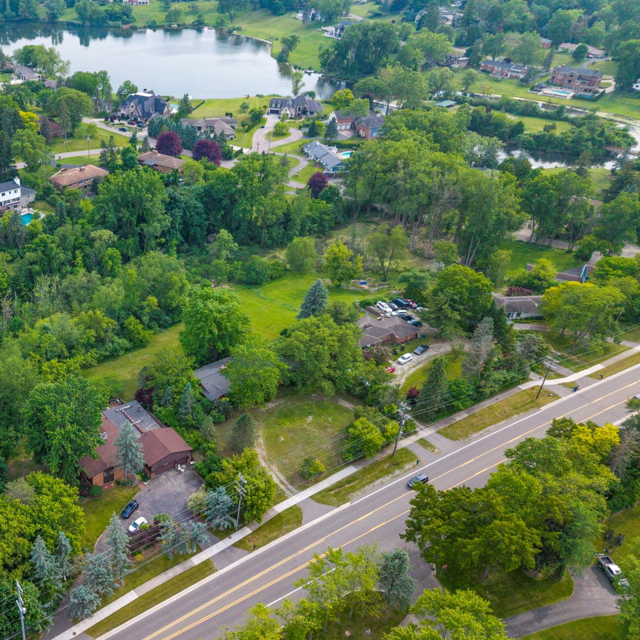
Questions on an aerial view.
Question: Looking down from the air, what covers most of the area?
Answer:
trees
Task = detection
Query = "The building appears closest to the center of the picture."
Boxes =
[338,312,419,359]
